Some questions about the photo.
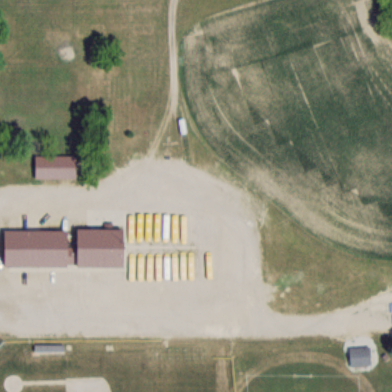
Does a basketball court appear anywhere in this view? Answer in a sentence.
No, the frame has no basketball court in it.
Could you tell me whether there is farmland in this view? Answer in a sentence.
Yes, some farmland is visible.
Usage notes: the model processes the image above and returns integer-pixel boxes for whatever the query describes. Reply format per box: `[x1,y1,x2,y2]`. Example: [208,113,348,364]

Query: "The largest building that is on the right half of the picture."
[349,348,371,368]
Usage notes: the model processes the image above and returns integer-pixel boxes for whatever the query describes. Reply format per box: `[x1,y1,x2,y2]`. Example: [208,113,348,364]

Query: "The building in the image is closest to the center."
[76,223,123,268]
